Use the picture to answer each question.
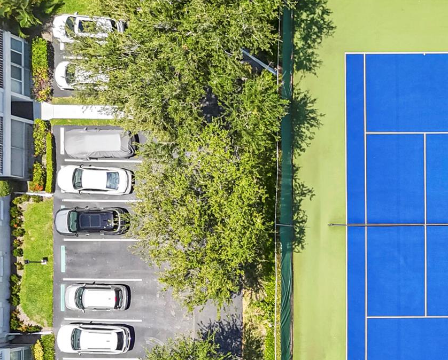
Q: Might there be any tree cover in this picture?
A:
Yes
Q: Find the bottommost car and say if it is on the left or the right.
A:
left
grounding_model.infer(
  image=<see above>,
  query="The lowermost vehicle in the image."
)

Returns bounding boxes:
[58,323,130,357]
